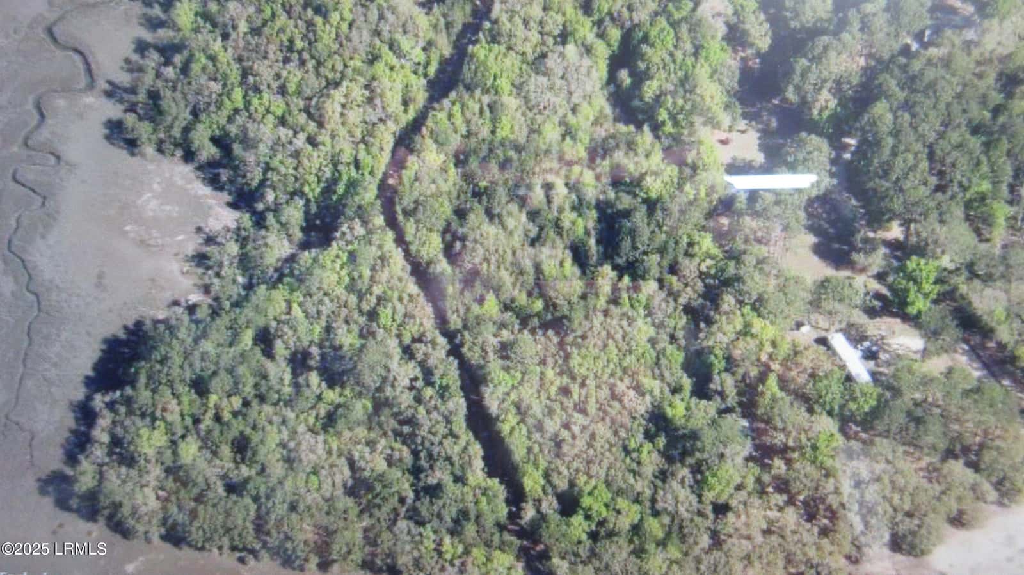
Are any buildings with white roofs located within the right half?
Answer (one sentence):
Yes, the scene does show a building with a white roof within the right half.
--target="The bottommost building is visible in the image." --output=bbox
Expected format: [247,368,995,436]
[829,332,873,390]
